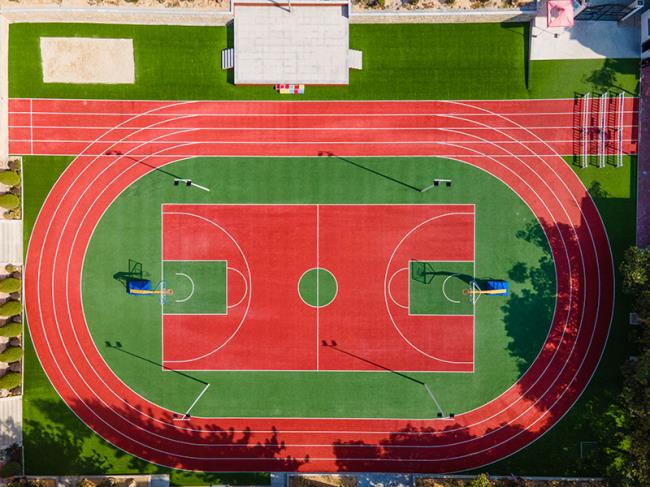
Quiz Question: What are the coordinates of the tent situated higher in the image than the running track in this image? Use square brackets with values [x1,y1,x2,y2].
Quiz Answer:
[535,0,574,38]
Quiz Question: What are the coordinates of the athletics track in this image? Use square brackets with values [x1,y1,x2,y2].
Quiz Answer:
[8,98,635,473]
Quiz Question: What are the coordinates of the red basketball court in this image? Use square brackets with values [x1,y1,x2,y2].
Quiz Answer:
[162,204,475,373]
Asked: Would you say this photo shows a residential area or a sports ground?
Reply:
sports ground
